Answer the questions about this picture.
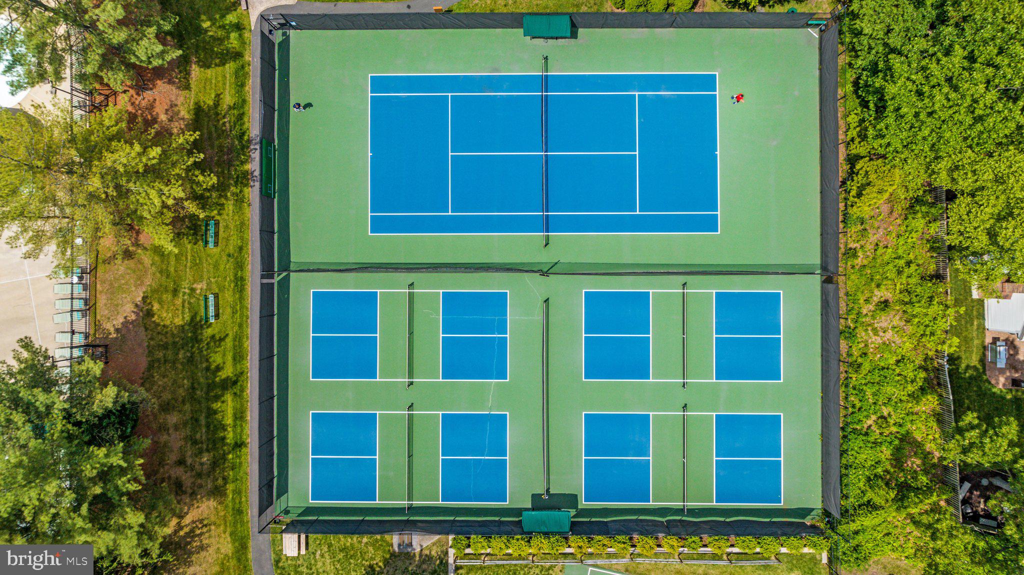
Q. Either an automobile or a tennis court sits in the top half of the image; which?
tennis court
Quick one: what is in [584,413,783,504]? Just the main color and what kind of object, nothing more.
blue sports court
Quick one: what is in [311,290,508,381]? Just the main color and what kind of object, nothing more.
blue sports court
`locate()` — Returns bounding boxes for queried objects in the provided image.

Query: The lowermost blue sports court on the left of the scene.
[310,412,508,503]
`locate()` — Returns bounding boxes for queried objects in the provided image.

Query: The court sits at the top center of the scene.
[277,29,821,273]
